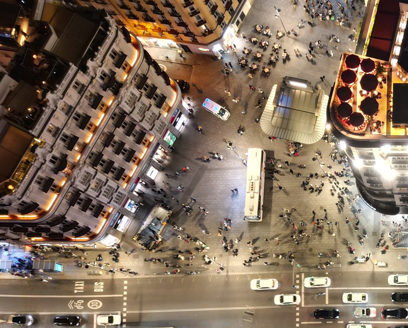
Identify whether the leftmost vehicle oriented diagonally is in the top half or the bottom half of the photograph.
top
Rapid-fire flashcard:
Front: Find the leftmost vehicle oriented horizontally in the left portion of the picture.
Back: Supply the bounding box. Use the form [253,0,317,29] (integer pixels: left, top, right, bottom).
[7,314,36,327]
